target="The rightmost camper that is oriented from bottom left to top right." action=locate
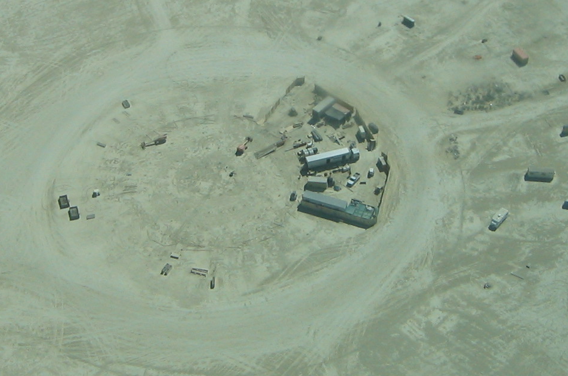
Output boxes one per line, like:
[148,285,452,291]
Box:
[488,207,510,232]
